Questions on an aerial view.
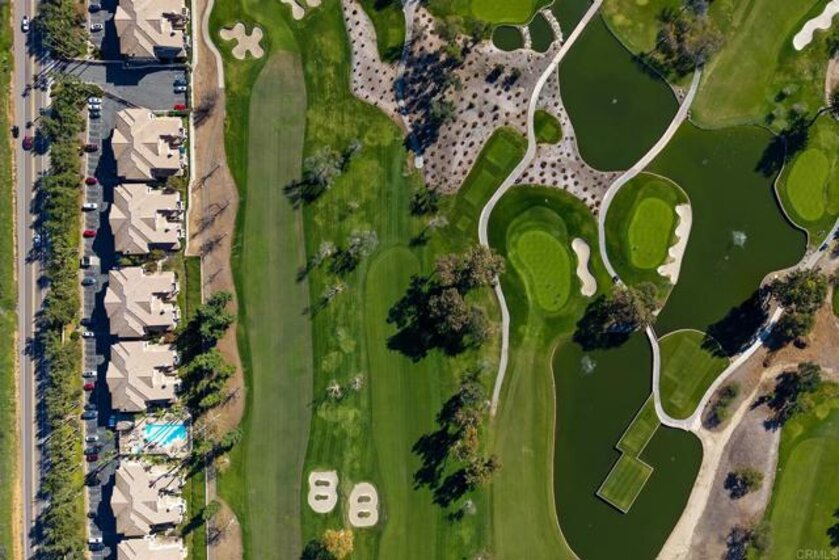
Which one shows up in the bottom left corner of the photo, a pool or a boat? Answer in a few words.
pool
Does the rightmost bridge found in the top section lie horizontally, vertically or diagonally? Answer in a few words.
diagonally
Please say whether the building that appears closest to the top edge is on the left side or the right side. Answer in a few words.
left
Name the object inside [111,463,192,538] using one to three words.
building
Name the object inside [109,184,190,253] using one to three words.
building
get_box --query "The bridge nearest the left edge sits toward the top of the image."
[557,0,607,60]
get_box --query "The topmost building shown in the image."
[114,0,194,61]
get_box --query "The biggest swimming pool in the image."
[118,414,193,457]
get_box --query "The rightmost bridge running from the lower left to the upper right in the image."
[635,101,693,172]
